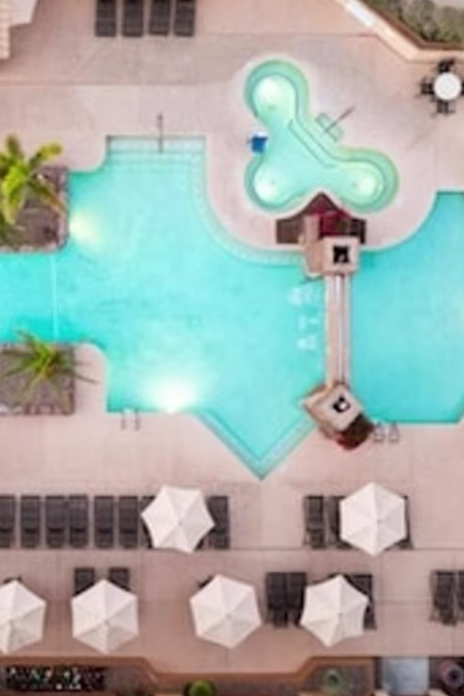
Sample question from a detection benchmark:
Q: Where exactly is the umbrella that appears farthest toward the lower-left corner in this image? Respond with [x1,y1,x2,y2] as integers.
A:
[0,577,47,655]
